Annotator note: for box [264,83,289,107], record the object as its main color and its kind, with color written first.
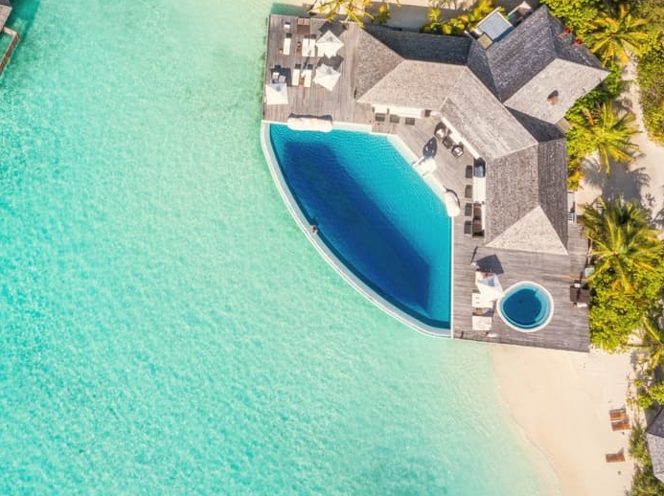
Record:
white umbrella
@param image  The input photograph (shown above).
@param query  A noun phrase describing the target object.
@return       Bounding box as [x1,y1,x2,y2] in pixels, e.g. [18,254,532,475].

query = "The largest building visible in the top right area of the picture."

[357,4,610,255]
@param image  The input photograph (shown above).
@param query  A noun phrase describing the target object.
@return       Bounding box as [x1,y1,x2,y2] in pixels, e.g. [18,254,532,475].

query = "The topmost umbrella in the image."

[311,28,344,61]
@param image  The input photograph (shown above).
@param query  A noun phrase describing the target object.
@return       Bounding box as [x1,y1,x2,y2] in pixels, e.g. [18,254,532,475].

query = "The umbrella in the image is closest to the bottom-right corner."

[471,268,506,302]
